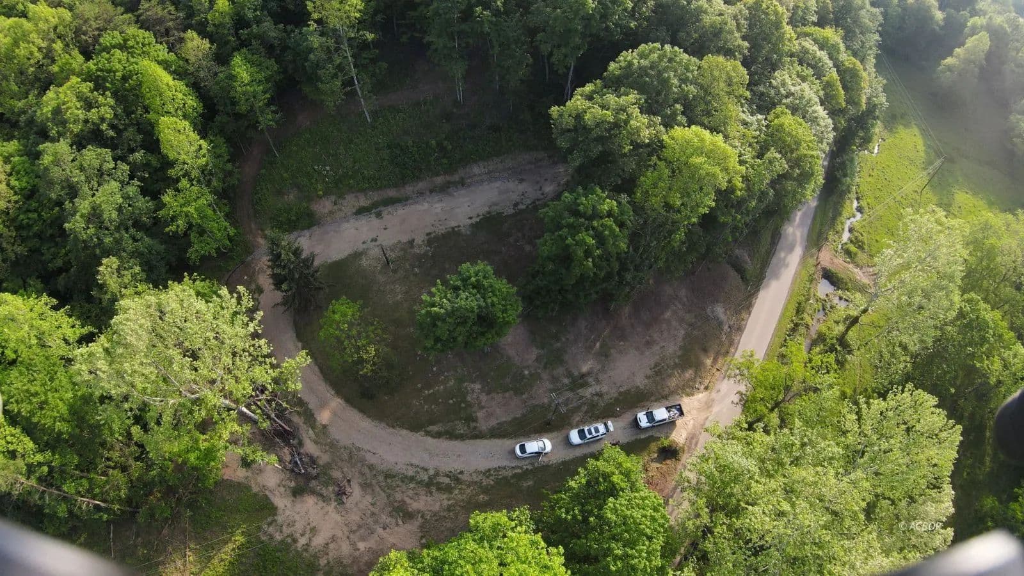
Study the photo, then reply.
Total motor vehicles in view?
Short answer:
3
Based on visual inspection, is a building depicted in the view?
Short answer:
No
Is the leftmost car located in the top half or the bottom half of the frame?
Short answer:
bottom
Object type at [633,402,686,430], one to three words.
truck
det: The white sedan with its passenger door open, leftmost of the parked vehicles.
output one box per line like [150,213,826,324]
[513,436,553,460]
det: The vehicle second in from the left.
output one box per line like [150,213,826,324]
[566,418,614,447]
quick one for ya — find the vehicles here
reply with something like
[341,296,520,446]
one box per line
[566,418,614,447]
[513,436,553,460]
[633,402,686,430]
